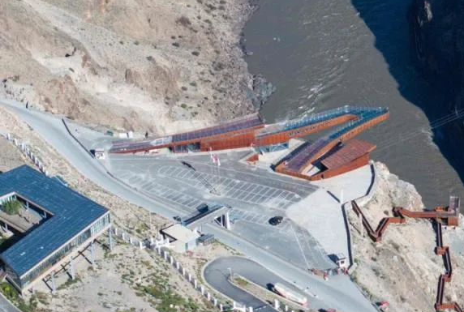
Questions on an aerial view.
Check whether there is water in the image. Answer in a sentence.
Yes, water can be seen from above here.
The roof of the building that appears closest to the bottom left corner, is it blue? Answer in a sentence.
Yes, blue is the color of the roof of the building that appears closest to the bottom left corner.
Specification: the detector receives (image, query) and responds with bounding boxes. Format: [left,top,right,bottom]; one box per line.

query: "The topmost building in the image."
[107,106,260,155]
